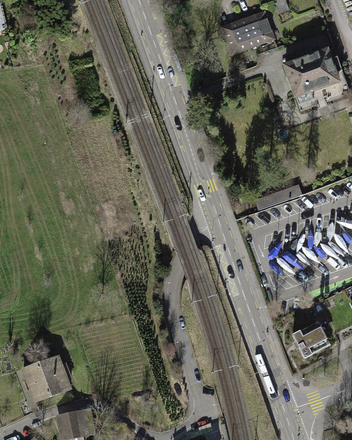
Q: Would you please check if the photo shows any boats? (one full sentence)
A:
Yes, the image includes a boat.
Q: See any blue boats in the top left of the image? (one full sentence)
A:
No, there is no blue boat in the top left of the image.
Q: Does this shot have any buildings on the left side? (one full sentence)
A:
Yes, there is a building on the left side.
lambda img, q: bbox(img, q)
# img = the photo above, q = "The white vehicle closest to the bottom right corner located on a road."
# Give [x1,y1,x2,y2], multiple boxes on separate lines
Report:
[256,354,278,400]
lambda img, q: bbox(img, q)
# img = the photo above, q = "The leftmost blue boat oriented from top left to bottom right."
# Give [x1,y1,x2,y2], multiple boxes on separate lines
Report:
[268,260,283,276]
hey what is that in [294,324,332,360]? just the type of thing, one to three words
building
